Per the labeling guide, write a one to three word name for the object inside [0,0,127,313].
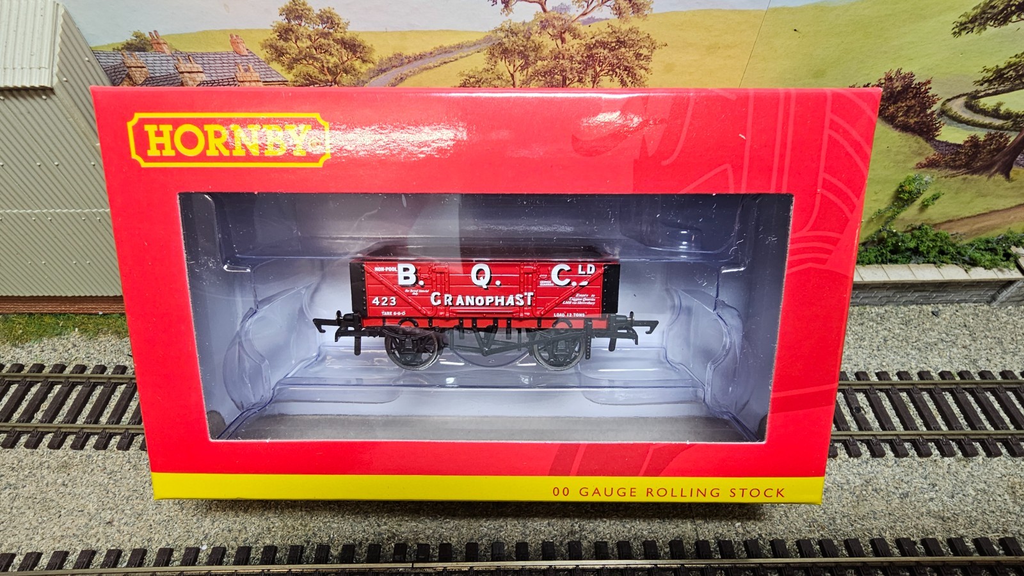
shed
